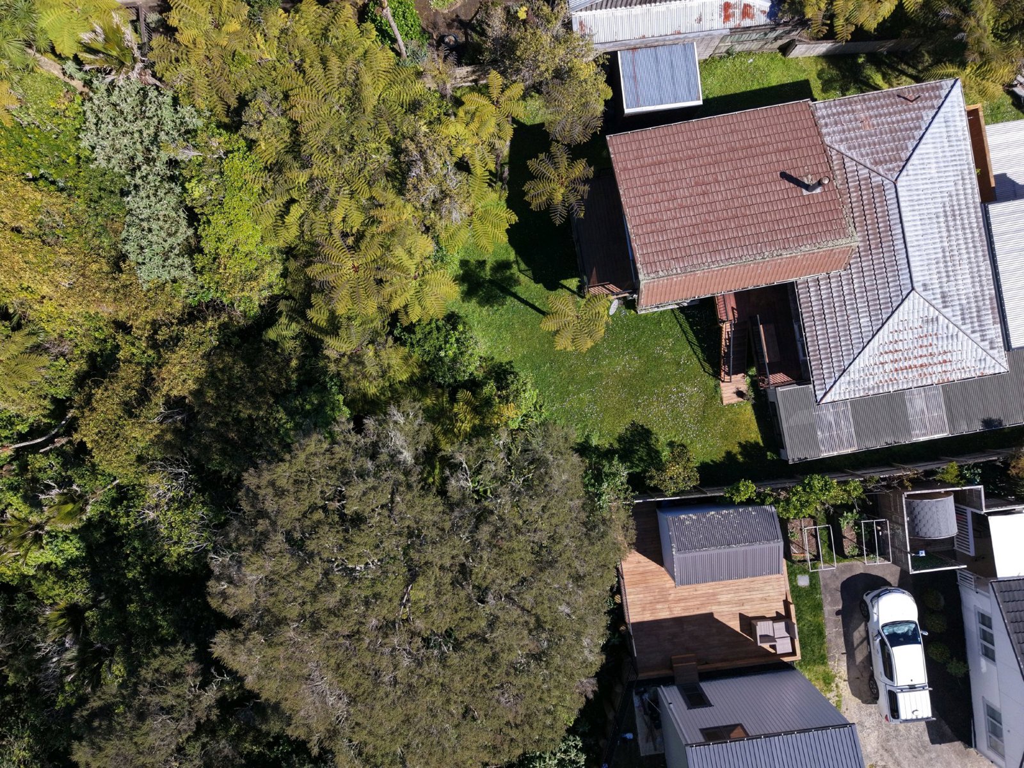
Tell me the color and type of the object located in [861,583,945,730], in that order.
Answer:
white truck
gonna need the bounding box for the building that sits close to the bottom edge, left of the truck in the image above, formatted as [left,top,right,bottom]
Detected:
[653,662,865,768]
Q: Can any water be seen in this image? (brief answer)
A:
No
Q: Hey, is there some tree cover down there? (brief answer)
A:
Yes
